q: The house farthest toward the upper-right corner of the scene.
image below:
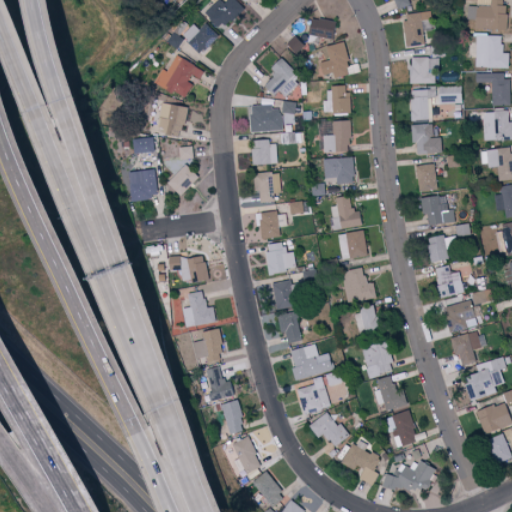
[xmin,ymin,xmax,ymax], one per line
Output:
[468,0,508,32]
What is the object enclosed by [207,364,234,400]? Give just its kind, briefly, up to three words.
house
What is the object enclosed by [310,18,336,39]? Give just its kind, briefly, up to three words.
house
